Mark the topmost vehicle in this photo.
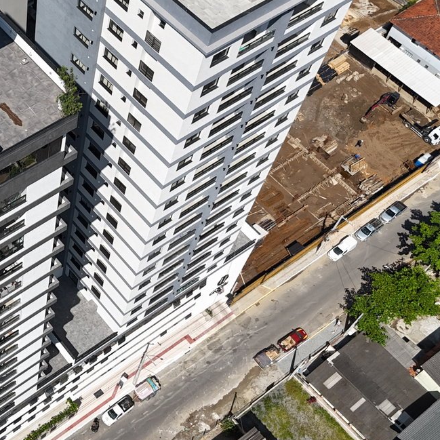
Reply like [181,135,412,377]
[362,88,408,119]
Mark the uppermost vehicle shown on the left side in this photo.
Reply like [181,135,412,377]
[128,372,166,407]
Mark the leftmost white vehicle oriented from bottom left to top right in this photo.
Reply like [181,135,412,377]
[100,391,136,429]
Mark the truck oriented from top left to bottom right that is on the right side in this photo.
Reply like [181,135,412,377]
[395,107,440,145]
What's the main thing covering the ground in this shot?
buildings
